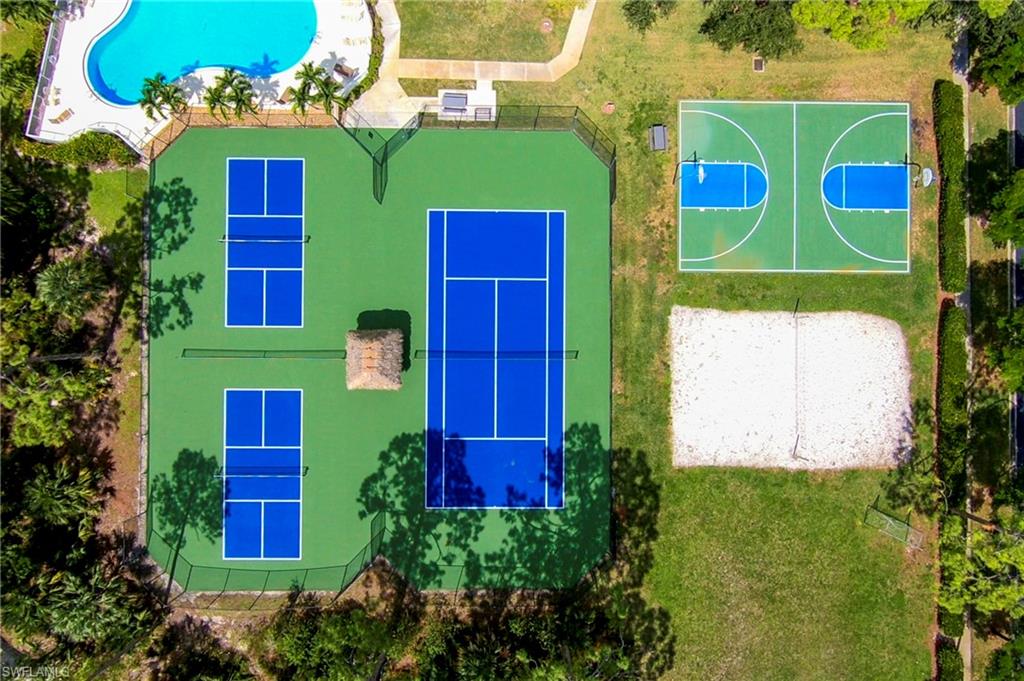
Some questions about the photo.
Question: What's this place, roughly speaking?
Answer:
sports ground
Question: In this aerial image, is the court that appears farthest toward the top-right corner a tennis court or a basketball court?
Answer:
basketball court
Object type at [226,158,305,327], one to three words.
sports court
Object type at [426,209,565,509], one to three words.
tennis court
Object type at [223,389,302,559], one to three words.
sports court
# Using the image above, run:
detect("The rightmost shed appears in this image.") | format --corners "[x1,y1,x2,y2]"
[345,329,403,391]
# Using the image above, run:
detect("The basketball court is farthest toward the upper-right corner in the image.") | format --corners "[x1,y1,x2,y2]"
[679,100,911,273]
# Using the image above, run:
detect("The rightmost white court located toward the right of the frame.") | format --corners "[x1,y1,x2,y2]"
[668,302,915,472]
